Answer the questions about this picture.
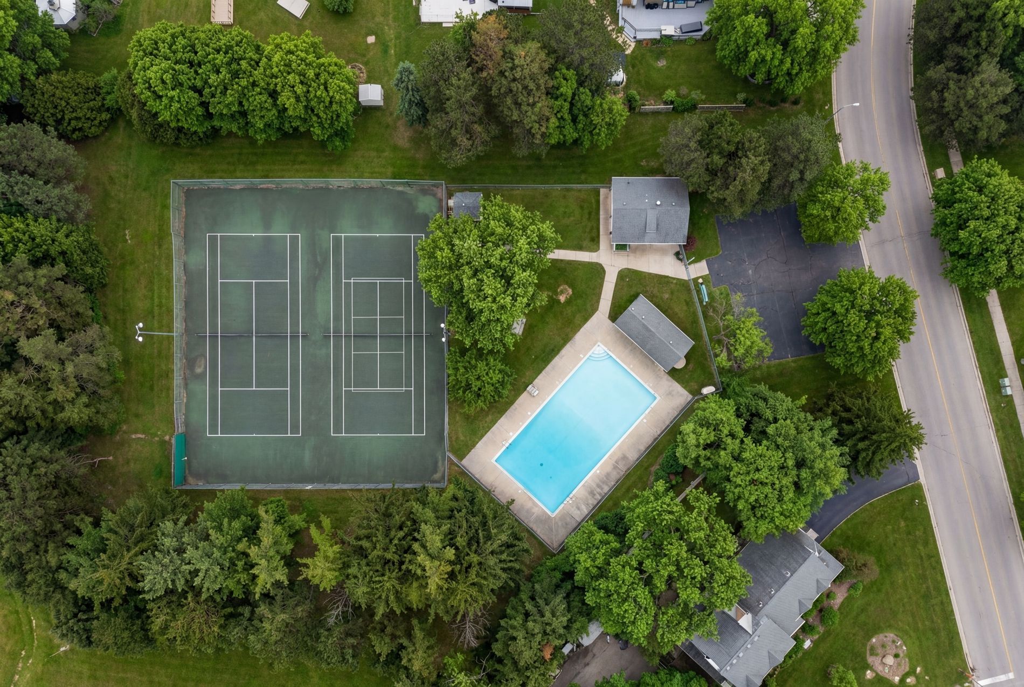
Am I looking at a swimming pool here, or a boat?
swimming pool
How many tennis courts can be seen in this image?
2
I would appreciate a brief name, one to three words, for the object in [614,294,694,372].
building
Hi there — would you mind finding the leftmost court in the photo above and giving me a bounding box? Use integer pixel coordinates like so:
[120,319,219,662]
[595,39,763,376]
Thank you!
[184,186,316,485]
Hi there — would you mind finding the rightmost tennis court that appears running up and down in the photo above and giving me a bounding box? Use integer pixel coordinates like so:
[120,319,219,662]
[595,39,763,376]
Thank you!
[316,186,447,485]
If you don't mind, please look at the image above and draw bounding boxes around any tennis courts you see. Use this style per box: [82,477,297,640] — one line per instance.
[184,186,316,485]
[316,186,447,485]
